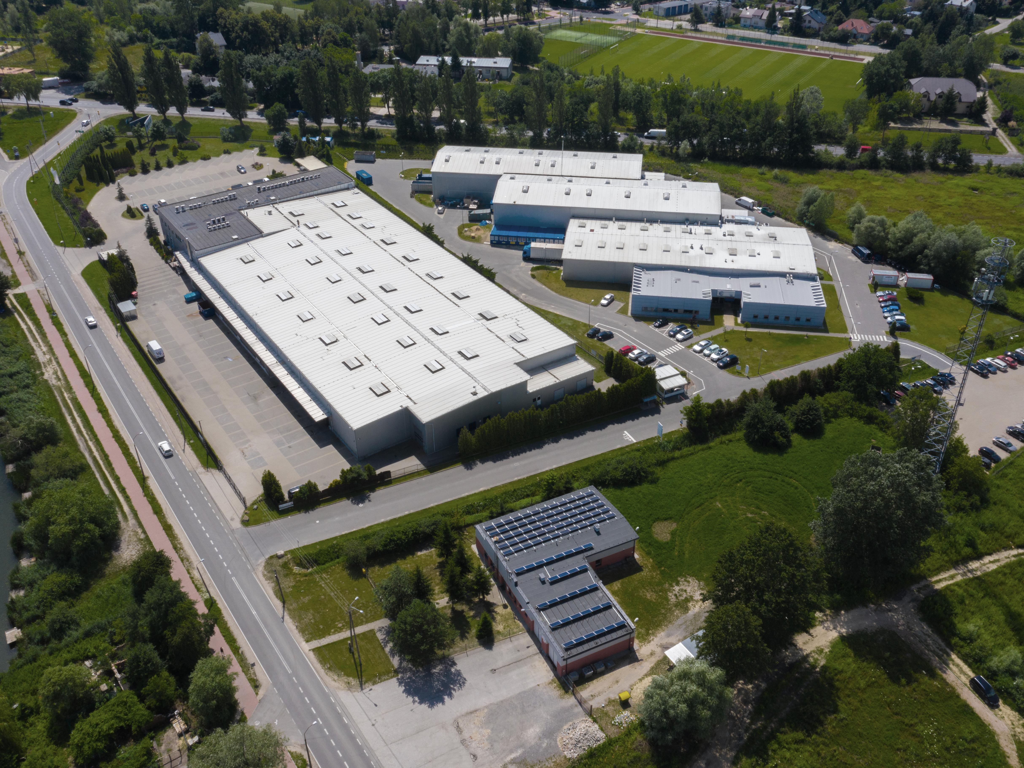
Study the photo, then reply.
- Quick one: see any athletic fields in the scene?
Yes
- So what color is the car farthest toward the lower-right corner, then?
black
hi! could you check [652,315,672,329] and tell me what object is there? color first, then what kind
black car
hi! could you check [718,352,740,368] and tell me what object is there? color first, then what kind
black car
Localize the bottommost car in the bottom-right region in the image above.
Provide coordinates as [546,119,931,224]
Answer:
[968,676,1002,709]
